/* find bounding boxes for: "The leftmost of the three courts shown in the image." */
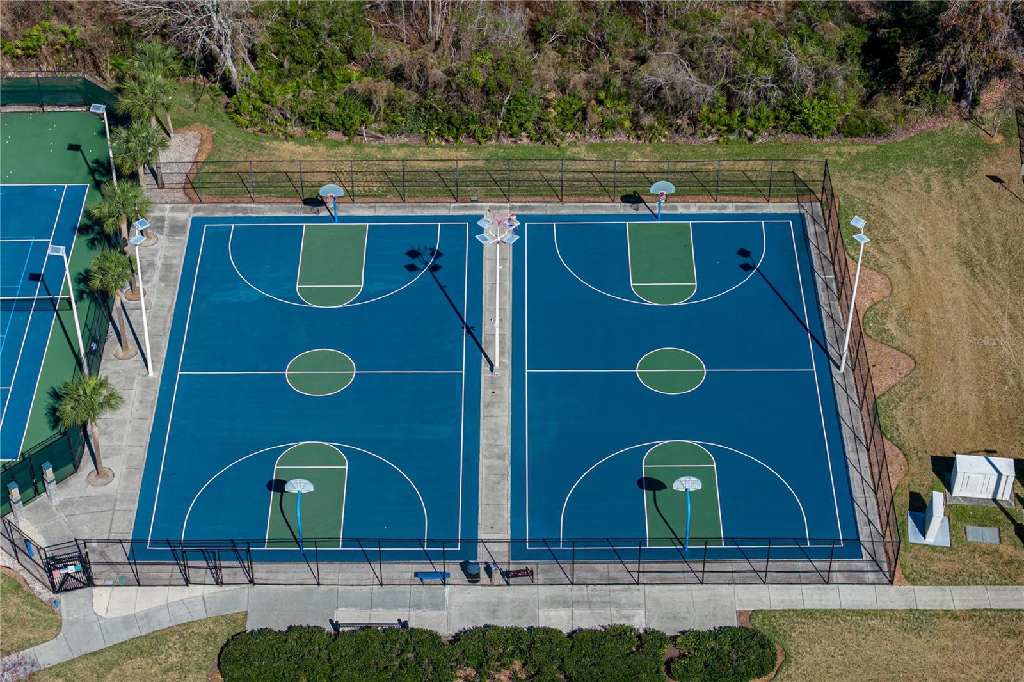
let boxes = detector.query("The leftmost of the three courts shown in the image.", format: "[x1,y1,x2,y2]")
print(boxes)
[0,110,137,513]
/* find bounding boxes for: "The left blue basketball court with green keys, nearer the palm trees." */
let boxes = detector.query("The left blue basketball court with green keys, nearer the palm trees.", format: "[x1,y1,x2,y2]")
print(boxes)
[127,212,486,562]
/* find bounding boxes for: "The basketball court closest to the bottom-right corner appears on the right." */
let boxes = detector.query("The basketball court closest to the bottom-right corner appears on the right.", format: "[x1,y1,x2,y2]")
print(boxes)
[507,211,862,561]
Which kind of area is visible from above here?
sports ground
